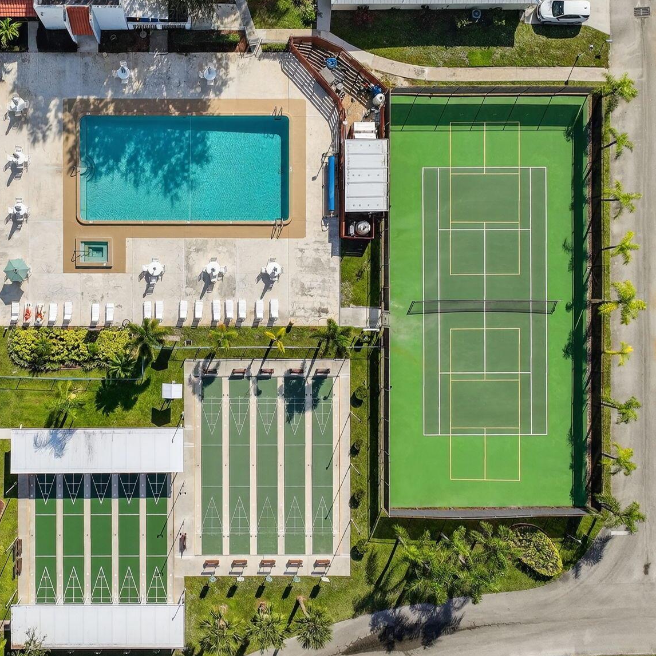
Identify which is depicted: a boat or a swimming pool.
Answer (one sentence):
The image shows a swimming pool.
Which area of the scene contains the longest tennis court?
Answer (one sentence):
The longest tennis court appears toward the right of the photo.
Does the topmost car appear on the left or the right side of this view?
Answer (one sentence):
The topmost car sits on the right side.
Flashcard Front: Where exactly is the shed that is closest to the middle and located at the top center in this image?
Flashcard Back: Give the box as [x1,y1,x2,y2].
[343,139,388,212]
